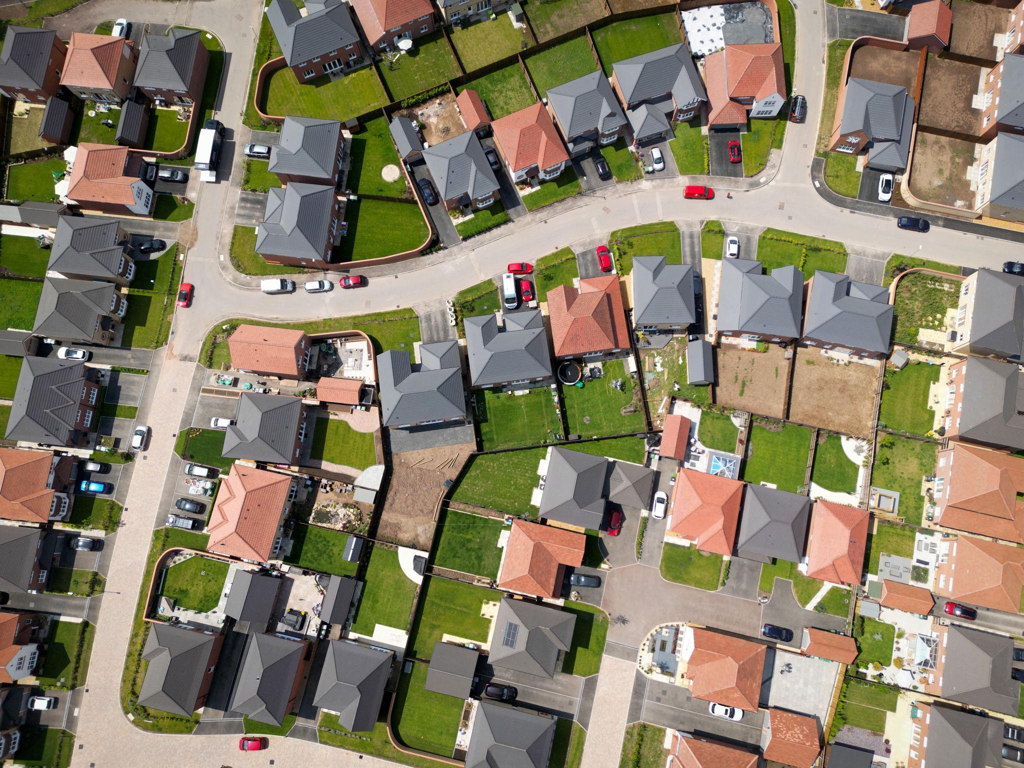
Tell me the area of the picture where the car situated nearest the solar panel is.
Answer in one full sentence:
You can find the car situated nearest the solar panel in the bottom area of the picture.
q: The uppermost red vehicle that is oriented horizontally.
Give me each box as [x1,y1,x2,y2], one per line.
[683,184,714,200]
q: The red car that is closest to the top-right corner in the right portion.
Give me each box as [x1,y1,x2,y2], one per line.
[729,141,742,164]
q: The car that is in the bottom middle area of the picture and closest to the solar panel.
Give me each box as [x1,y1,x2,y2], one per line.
[485,683,518,703]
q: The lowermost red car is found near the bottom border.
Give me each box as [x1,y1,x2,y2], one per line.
[238,736,267,752]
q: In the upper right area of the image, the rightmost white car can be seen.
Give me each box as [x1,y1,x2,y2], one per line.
[877,172,894,203]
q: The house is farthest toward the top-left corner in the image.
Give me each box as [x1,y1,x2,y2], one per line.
[0,26,69,104]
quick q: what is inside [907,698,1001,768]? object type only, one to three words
house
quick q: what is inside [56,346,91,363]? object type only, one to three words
car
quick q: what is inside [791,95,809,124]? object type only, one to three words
car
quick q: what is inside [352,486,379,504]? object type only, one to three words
shed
